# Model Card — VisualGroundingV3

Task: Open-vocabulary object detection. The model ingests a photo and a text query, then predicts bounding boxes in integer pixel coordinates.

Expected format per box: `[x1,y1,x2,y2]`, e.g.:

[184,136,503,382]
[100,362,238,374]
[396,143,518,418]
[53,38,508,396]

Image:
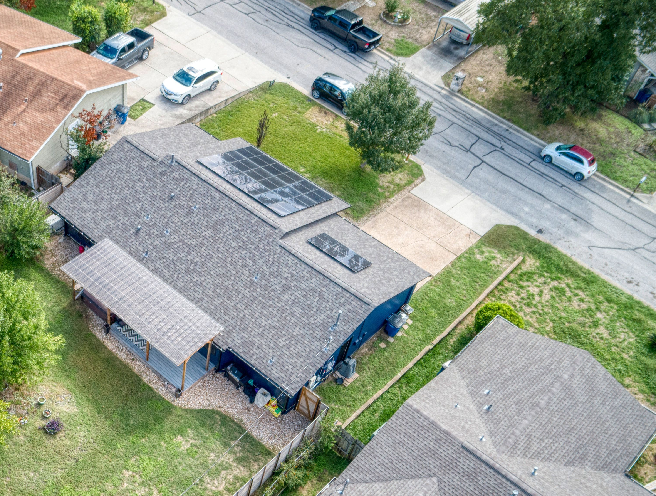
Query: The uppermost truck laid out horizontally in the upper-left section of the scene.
[86,29,160,70]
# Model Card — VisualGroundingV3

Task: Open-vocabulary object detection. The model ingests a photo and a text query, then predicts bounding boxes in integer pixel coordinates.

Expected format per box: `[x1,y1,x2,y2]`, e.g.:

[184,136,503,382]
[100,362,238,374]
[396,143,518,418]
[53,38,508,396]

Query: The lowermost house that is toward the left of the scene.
[46,121,432,417]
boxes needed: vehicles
[156,57,228,107]
[446,16,482,46]
[86,29,160,70]
[309,67,365,116]
[541,141,608,184]
[308,5,387,55]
